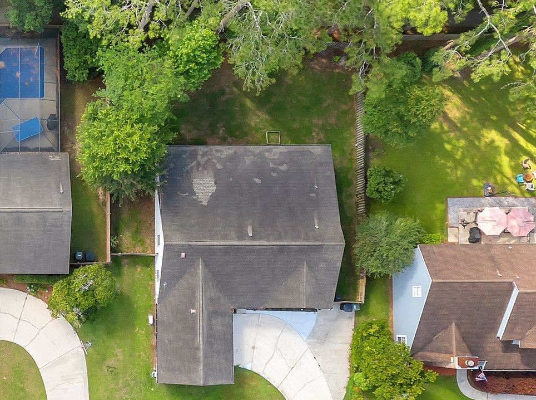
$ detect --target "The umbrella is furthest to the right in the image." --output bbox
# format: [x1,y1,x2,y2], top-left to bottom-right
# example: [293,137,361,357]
[506,208,534,235]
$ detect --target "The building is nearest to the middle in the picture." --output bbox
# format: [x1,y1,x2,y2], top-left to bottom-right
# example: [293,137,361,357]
[155,144,350,386]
